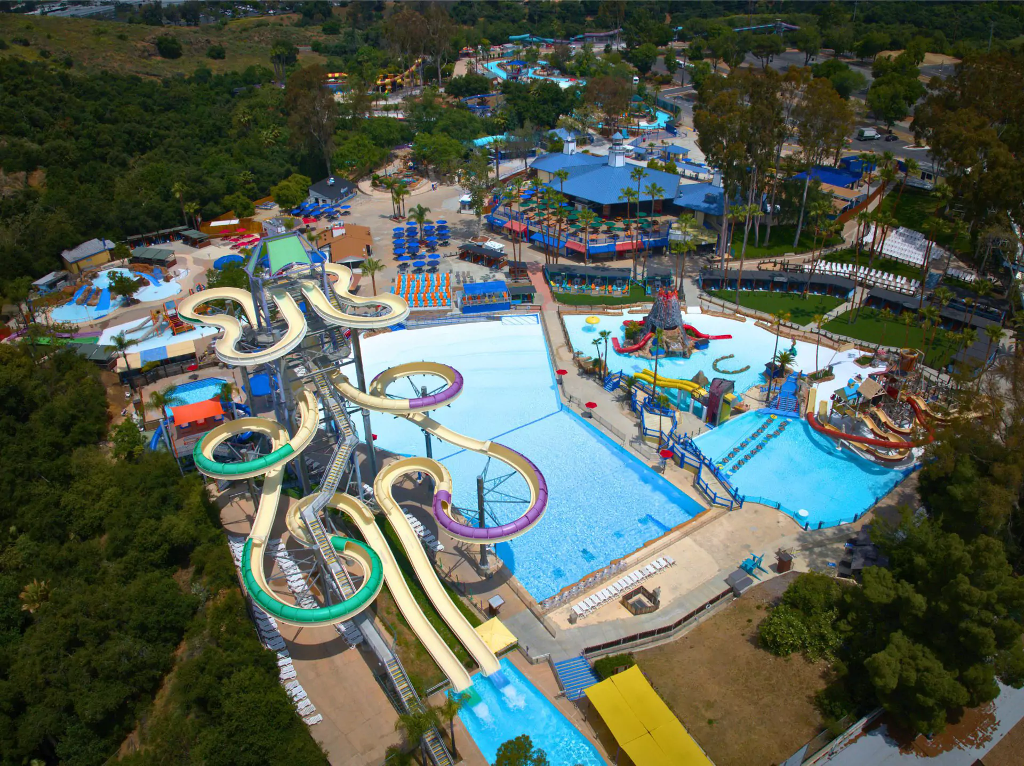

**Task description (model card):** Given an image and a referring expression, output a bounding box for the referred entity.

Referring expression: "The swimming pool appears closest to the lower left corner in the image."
[164,377,230,425]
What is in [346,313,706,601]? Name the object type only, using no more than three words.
swimming pool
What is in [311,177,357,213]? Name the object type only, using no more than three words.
building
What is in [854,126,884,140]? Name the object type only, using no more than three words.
vehicle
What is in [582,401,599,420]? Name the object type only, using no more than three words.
umbrella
